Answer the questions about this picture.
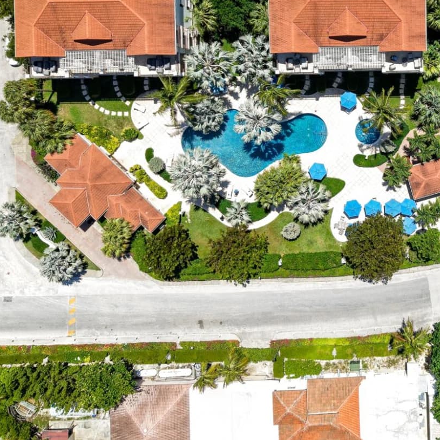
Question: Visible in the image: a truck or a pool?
pool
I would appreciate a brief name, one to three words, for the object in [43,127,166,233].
building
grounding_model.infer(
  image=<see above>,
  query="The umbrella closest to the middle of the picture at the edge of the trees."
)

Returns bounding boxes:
[309,162,328,181]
